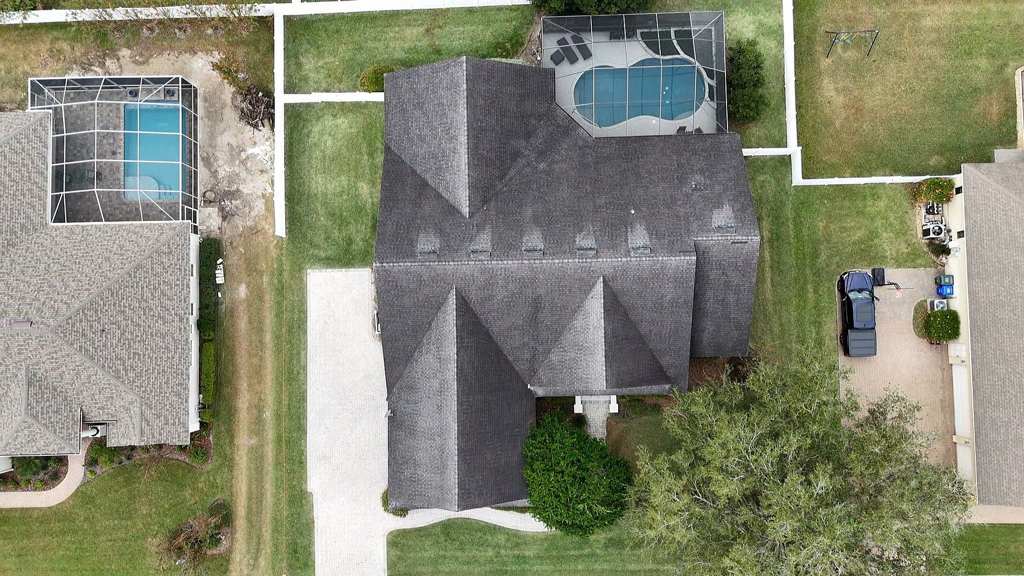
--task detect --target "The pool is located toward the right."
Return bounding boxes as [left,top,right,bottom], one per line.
[570,54,708,130]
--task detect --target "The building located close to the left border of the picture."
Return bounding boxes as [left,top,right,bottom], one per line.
[0,109,204,473]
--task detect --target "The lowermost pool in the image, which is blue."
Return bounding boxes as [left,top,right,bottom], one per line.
[124,105,180,200]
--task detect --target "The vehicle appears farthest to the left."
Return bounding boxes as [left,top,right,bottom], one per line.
[835,271,877,357]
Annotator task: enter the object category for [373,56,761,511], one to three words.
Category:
house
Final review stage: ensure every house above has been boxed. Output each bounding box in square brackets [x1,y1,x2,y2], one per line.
[373,56,761,511]
[944,161,1024,509]
[0,109,204,473]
